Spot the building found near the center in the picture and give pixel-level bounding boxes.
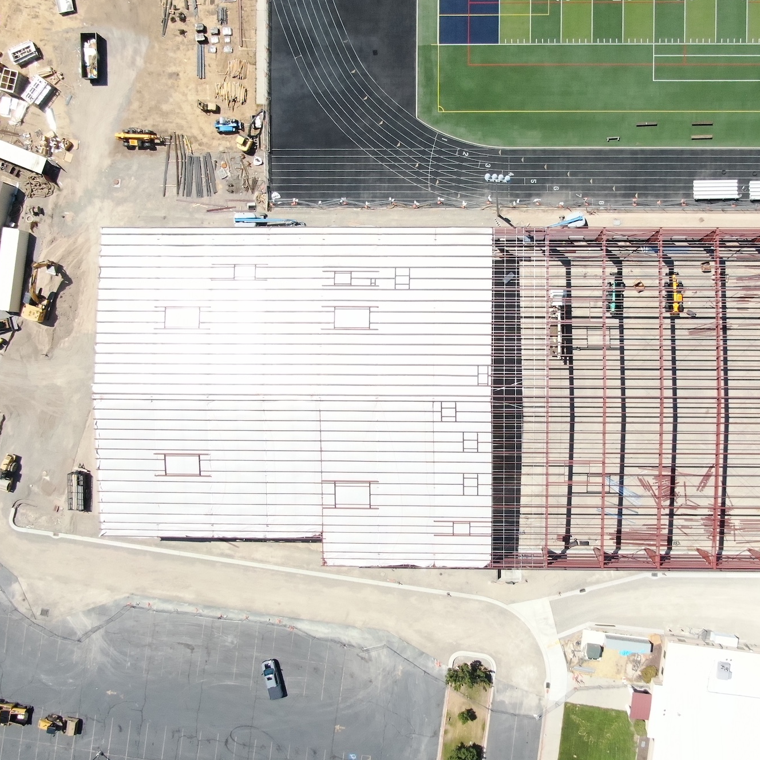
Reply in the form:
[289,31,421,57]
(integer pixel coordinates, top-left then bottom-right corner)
[93,227,760,570]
